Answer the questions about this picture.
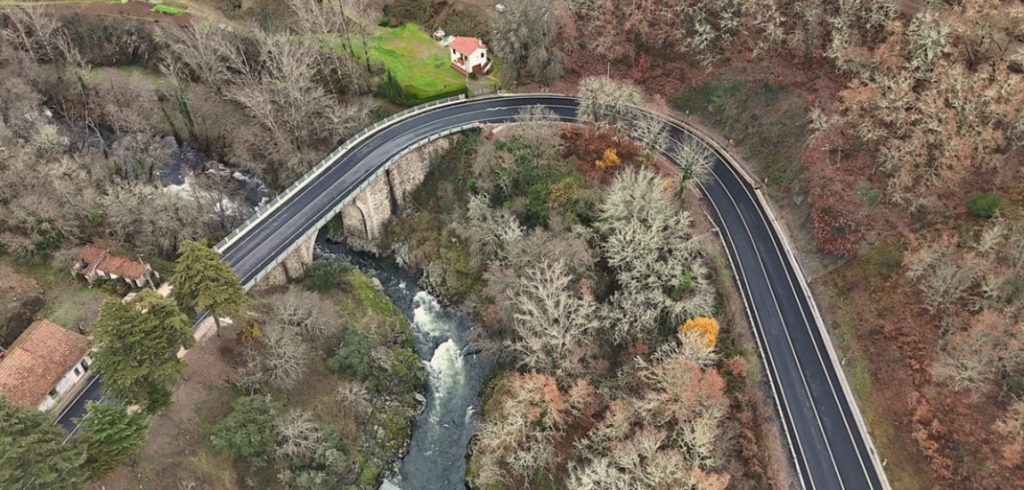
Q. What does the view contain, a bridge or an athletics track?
bridge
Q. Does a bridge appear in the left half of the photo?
Yes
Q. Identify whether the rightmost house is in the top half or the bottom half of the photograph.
top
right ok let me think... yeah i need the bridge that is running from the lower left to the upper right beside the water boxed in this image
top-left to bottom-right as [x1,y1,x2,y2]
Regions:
[152,89,466,312]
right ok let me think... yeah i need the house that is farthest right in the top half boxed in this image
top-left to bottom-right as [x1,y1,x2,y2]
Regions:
[444,36,493,77]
